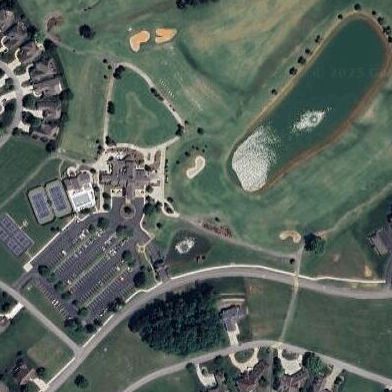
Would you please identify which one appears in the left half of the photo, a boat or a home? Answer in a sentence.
There is a home in the left half of the photo.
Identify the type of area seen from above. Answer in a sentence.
The area seen from above is a golf course.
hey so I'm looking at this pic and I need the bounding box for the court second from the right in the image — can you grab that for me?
[29,187,54,223]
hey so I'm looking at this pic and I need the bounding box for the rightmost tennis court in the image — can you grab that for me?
[47,181,71,216]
